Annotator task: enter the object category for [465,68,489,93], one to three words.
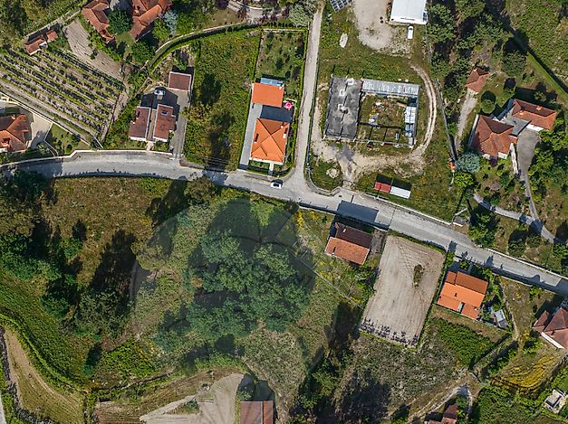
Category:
shed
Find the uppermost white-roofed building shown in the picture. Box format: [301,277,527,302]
[390,0,428,28]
